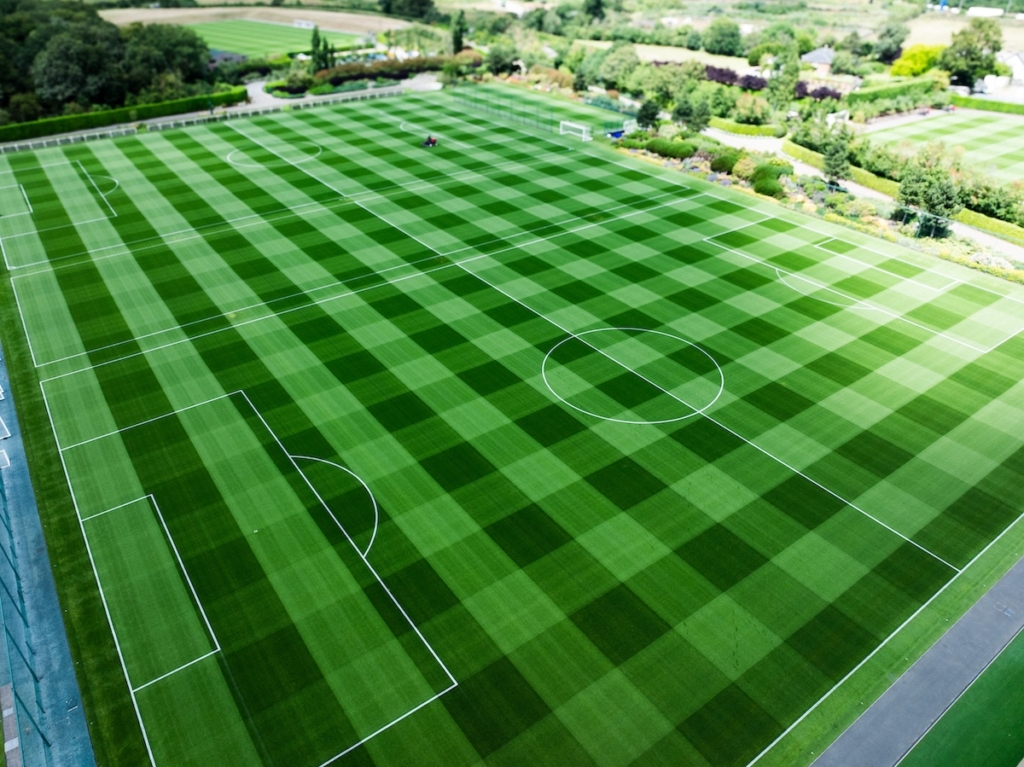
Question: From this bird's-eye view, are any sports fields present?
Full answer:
Yes, there is a sports field in the image.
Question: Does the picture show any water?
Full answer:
No, the picture contains no water.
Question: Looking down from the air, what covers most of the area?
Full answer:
The scene is dominated by grass.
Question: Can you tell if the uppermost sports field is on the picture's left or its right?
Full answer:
You can find the uppermost sports field on the left side of the picture.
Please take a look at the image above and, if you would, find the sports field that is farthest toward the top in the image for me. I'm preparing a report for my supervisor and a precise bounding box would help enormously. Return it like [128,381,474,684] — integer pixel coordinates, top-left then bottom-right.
[179,20,377,68]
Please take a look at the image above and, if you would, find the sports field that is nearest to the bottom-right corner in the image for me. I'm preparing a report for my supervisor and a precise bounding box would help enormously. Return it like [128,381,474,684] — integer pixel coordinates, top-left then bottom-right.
[902,633,1024,767]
